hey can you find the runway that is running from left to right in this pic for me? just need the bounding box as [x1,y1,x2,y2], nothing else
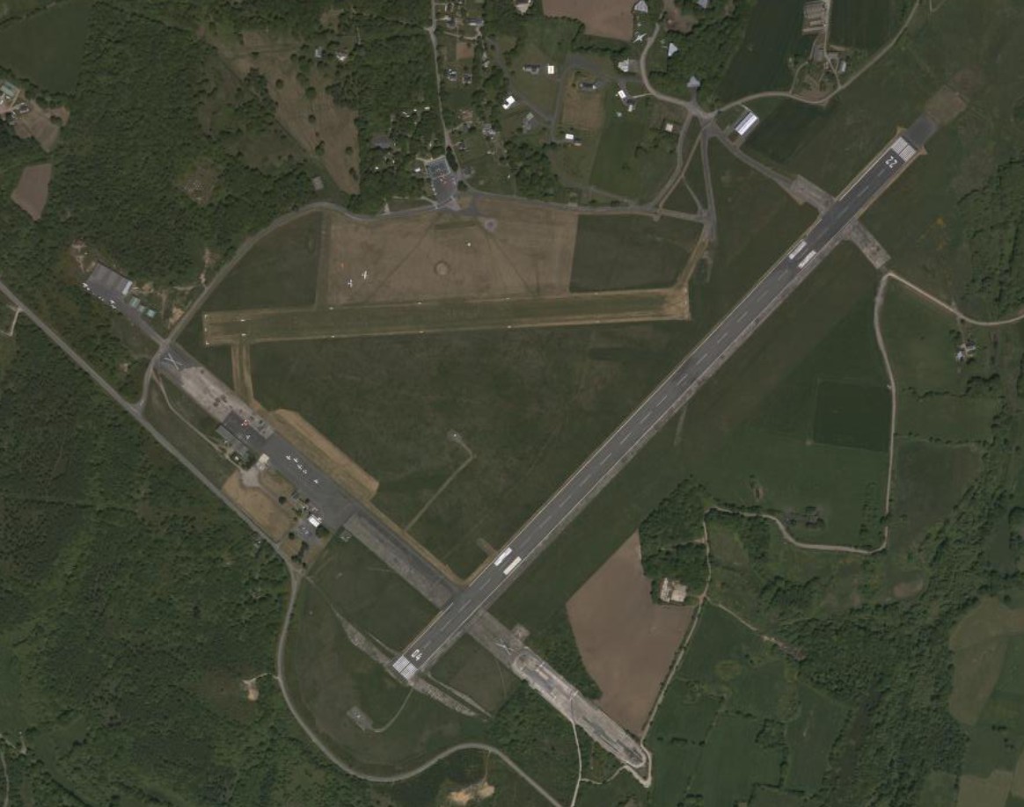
[203,287,691,345]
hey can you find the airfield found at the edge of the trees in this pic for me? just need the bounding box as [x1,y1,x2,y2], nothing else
[85,79,967,770]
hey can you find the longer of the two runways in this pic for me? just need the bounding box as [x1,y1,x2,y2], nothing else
[391,136,917,681]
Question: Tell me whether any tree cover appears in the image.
Yes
